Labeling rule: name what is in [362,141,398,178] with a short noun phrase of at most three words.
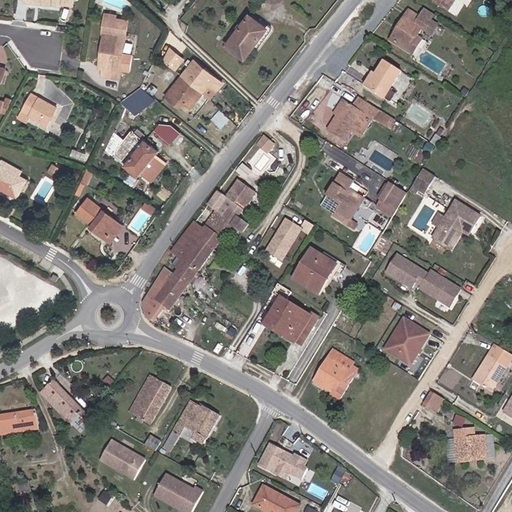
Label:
swimming pool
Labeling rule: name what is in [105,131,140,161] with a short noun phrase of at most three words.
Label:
barn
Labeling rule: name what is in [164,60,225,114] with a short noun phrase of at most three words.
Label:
house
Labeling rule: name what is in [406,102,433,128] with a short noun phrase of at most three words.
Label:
swimming pool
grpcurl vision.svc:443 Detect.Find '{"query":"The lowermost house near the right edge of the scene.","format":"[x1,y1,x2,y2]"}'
[448,414,494,464]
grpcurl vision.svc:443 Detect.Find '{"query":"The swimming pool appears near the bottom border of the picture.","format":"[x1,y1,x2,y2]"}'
[305,482,330,502]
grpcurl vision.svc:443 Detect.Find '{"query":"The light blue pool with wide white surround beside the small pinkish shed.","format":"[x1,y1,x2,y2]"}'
[30,176,54,205]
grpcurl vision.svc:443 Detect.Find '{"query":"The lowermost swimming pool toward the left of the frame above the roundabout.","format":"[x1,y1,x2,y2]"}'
[128,209,151,236]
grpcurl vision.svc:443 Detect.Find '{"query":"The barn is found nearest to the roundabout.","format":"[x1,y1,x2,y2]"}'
[142,222,219,320]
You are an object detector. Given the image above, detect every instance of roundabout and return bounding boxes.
[62,279,150,346]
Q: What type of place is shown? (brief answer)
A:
residential area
